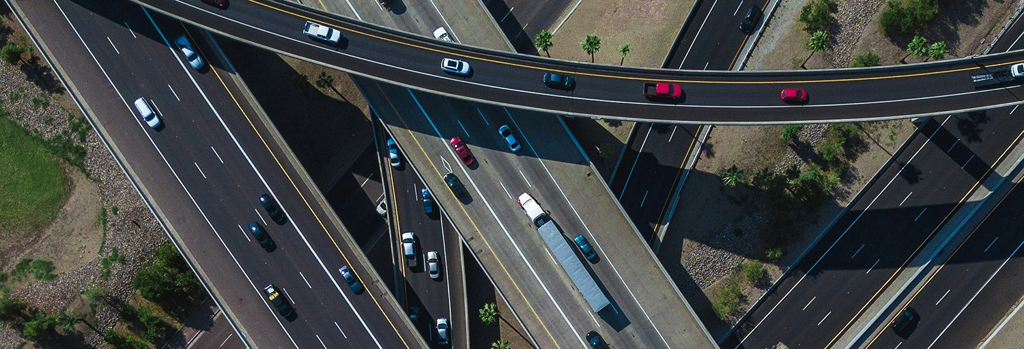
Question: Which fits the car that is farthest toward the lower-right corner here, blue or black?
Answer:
black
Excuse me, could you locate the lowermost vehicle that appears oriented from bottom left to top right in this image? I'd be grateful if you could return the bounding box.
[888,302,915,331]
